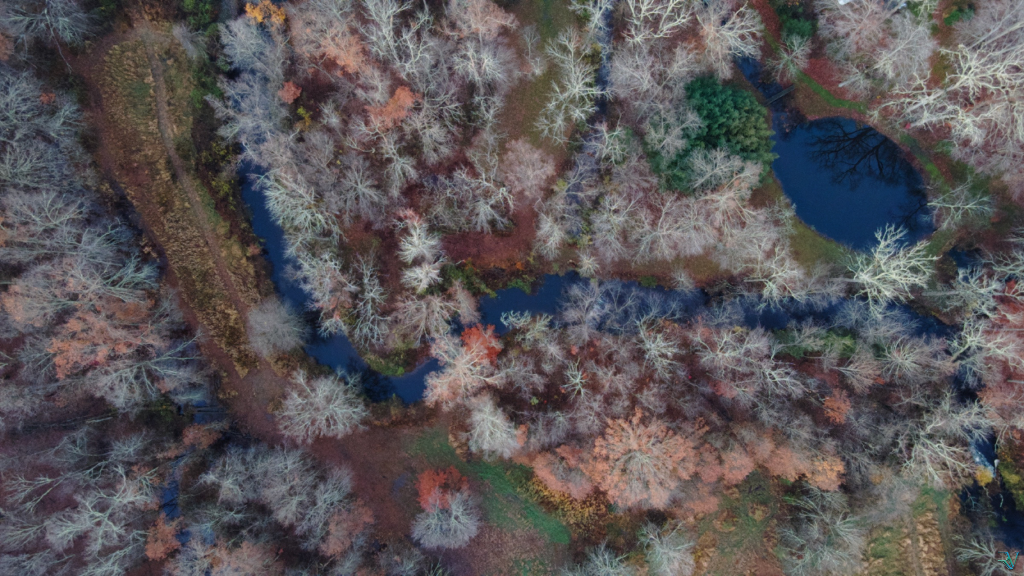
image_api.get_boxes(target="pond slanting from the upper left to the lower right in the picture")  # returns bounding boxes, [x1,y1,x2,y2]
[735,55,935,251]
